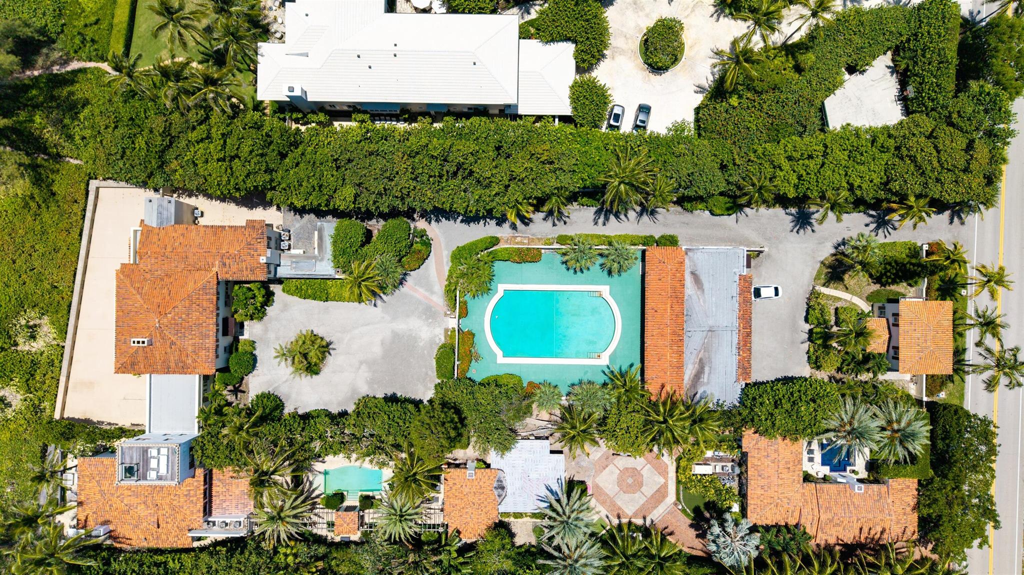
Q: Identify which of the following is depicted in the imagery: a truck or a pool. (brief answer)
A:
pool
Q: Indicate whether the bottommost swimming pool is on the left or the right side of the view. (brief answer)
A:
left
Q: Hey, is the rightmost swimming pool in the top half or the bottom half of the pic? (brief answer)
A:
bottom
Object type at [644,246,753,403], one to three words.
building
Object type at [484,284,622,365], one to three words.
swimming pool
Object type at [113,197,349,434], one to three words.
house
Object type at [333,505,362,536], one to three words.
building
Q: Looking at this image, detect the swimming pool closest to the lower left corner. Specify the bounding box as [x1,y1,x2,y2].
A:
[325,466,382,500]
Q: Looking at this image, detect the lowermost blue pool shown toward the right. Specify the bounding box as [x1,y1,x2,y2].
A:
[821,443,855,472]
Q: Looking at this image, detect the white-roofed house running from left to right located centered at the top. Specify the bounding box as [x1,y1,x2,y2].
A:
[257,0,575,122]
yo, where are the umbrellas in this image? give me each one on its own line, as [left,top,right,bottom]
[411,0,434,12]
[432,0,448,13]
